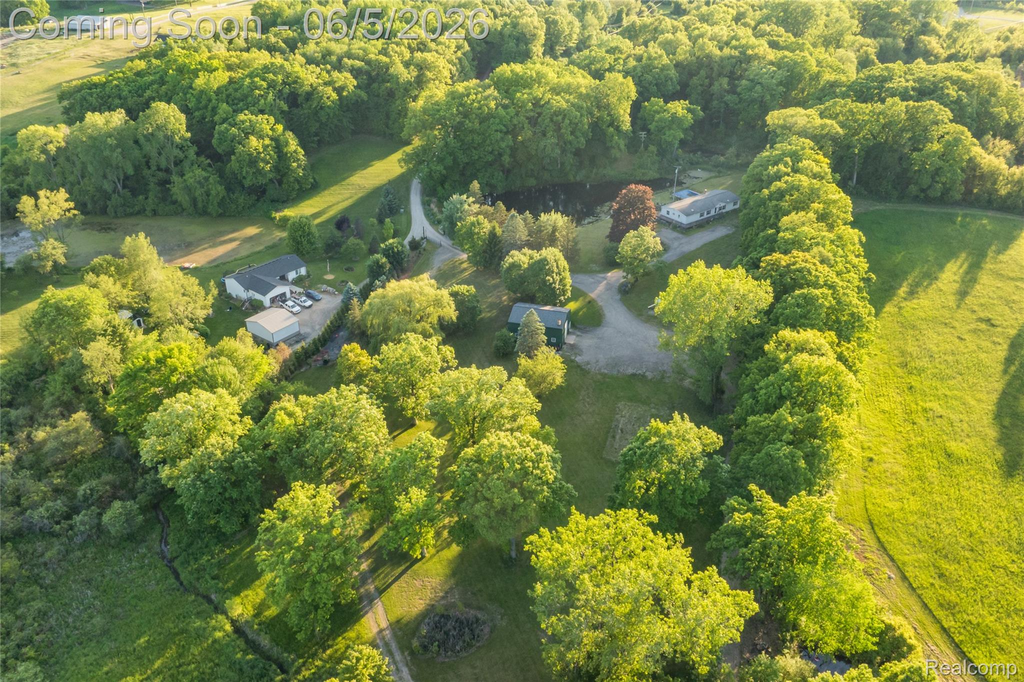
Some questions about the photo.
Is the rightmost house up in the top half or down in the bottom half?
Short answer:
top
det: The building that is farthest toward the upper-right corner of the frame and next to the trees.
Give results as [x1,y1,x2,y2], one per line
[664,186,741,229]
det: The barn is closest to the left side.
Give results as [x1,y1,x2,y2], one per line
[62,13,113,30]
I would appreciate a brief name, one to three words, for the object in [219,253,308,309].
house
